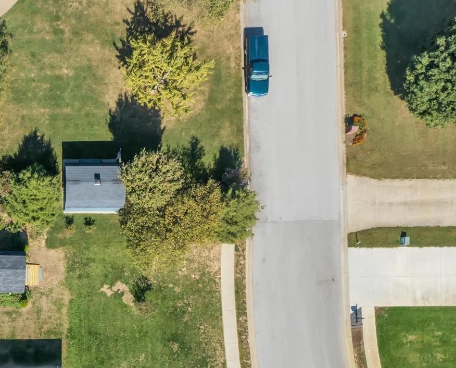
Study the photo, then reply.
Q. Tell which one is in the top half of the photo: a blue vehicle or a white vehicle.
blue vehicle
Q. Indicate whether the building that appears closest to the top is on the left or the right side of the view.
left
